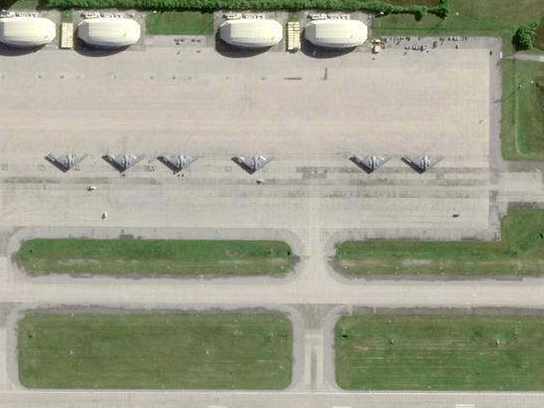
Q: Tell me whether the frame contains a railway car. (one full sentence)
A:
No, no railway car is visible in the scene.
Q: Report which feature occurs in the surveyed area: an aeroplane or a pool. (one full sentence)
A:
I can see an aeroplane in this picture.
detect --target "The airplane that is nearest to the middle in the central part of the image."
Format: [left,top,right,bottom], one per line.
[236,156,276,172]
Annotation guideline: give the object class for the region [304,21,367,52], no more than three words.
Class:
hangar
